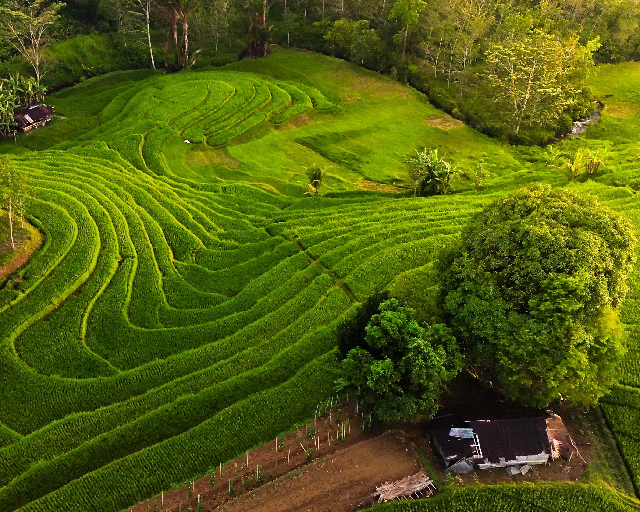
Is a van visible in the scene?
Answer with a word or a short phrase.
No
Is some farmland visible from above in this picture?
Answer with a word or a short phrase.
Yes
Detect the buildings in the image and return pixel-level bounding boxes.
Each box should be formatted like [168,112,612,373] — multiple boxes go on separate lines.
[15,104,55,138]
[424,406,575,478]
